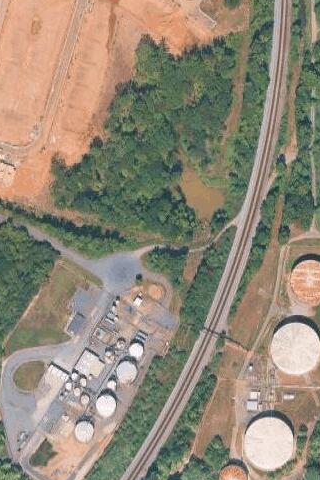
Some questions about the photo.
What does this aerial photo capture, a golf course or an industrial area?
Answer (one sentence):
It's an industrial area.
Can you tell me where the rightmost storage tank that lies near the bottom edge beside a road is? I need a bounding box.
[243,418,296,470]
